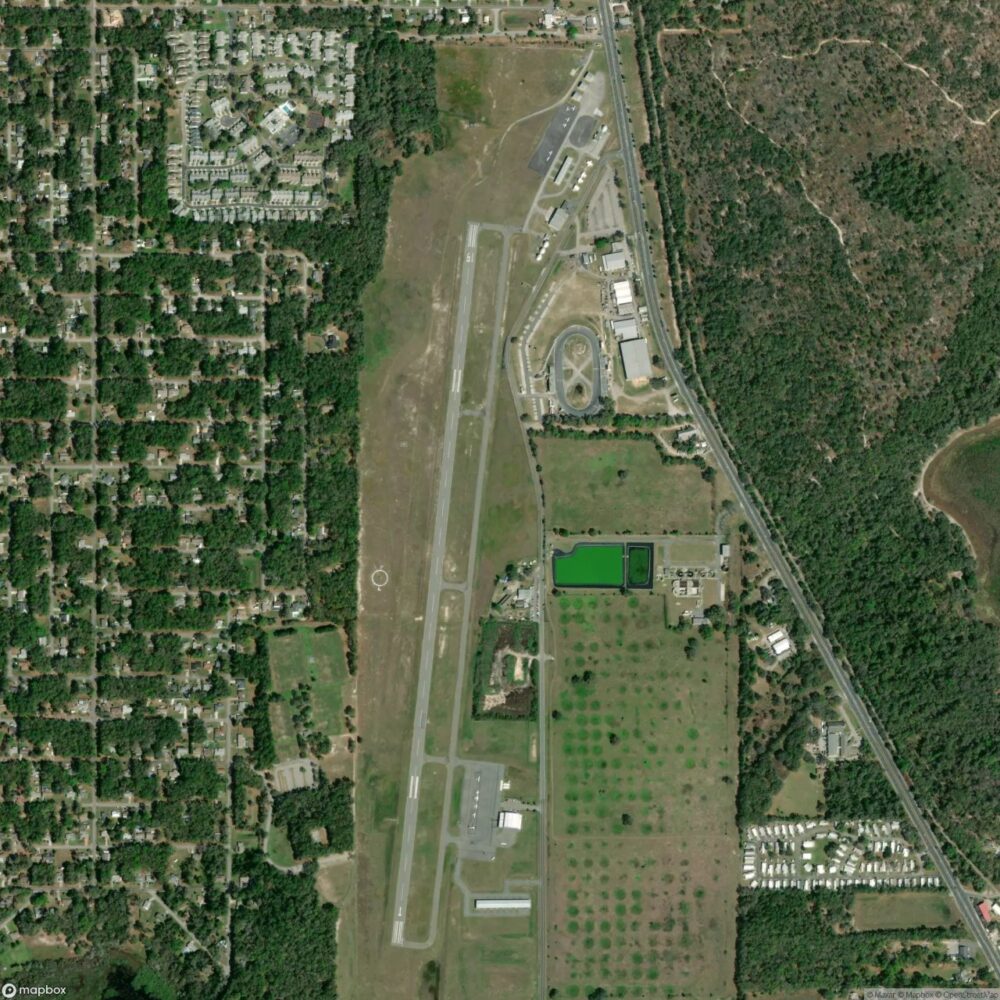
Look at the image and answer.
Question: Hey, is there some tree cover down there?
Yes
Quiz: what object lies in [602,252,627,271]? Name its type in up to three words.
building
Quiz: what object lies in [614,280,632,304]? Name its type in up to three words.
building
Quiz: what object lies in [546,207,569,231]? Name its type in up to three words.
hangar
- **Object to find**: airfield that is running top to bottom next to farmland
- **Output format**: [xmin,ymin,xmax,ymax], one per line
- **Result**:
[392,47,611,946]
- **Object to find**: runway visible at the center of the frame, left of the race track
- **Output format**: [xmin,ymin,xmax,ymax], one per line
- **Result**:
[392,223,479,945]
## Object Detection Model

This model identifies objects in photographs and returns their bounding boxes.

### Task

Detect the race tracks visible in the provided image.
[554,324,602,416]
